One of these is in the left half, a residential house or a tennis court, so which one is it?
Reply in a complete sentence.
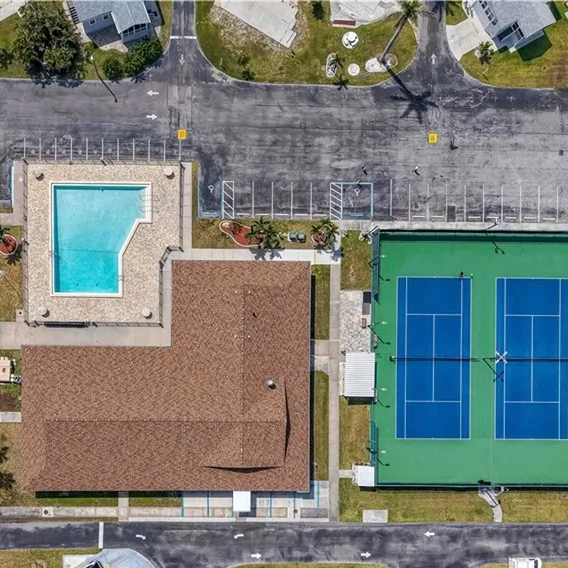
There is a residential house in the left half.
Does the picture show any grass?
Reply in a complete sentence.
Yes, the picture does contain grass.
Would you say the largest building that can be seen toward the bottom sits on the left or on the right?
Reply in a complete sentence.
It is on the left.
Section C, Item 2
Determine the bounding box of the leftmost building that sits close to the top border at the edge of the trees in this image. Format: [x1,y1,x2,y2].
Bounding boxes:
[68,0,111,32]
